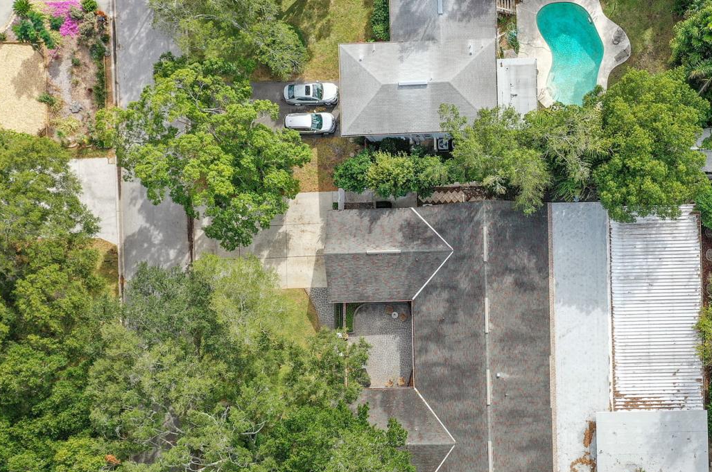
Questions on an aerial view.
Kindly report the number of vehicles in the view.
two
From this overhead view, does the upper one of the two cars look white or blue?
white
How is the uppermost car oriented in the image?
horizontally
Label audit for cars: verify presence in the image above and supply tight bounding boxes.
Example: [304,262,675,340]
[283,78,337,105]
[285,109,336,135]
